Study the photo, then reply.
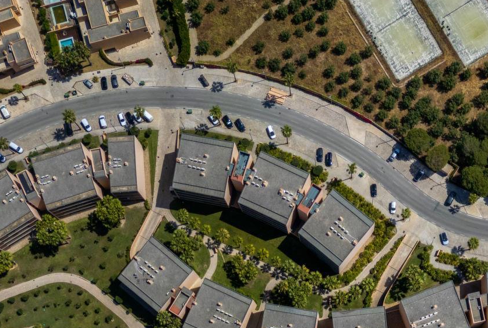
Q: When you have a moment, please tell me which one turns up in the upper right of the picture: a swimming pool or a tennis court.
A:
tennis court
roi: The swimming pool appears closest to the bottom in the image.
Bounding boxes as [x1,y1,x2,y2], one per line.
[57,27,82,55]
